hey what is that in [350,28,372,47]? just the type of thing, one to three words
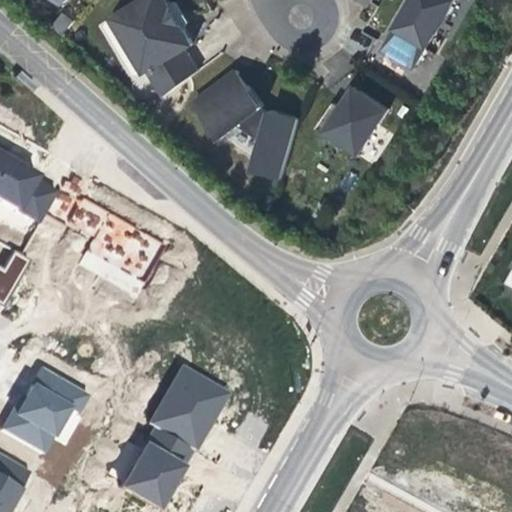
car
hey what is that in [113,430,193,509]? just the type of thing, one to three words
house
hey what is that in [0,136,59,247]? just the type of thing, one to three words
house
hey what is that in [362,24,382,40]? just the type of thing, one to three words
car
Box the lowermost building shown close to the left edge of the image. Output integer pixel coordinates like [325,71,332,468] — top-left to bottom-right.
[0,452,31,508]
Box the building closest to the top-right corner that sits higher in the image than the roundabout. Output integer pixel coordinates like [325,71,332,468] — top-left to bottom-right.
[388,0,451,62]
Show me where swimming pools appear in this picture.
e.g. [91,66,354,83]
[380,35,418,76]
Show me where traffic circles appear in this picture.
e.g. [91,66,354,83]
[320,254,450,384]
